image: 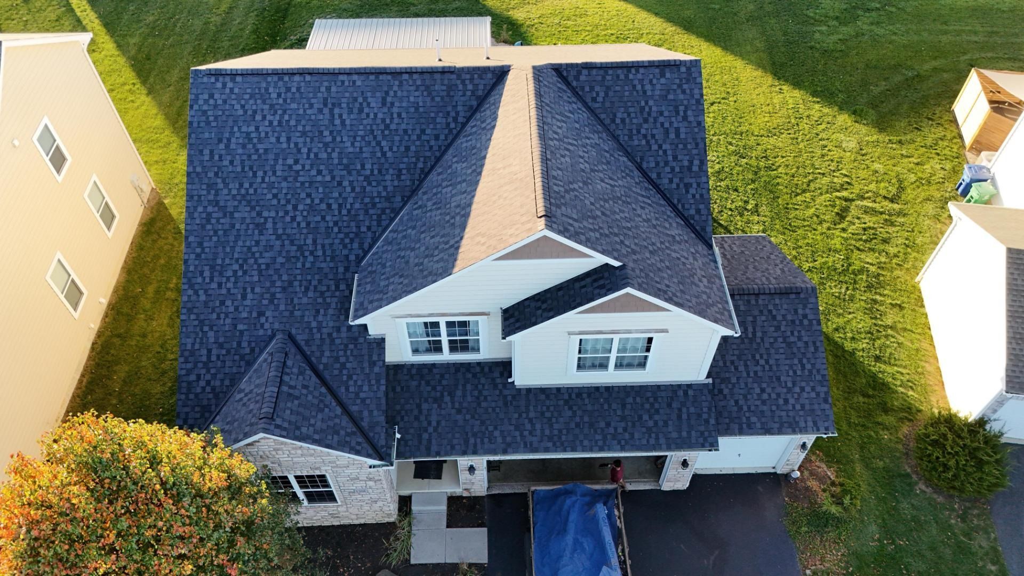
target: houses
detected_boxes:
[916,106,1024,452]
[0,34,158,520]
[163,42,838,524]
